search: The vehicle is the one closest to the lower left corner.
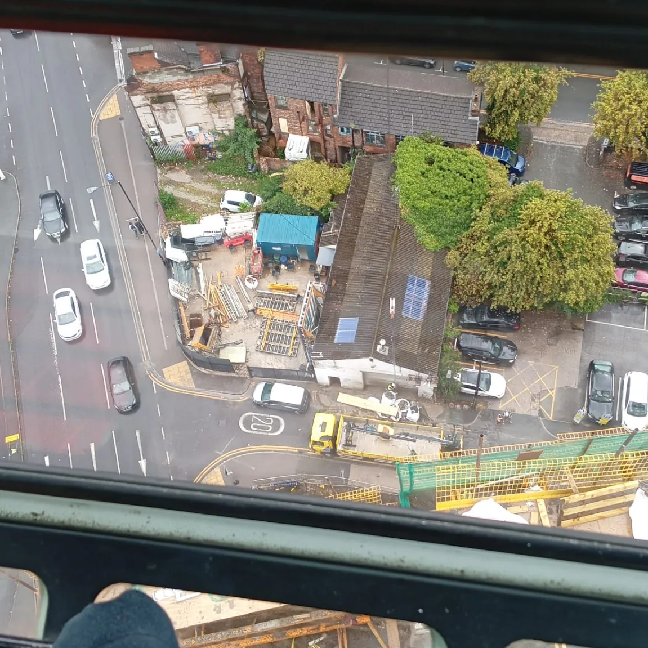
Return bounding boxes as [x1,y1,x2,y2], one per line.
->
[104,355,138,415]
